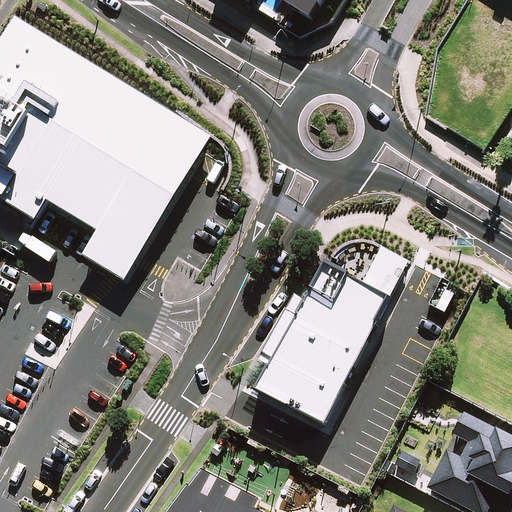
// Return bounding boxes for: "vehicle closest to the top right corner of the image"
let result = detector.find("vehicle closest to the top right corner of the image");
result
[366,104,388,125]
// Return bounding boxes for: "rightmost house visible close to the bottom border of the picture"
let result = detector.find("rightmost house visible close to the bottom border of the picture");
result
[428,412,512,512]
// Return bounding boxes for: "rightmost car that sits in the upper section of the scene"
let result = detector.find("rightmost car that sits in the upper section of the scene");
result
[426,194,449,214]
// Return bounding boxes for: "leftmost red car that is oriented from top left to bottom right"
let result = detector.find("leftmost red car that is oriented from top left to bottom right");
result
[6,393,27,410]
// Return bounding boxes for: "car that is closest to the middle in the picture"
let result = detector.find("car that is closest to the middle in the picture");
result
[272,252,288,274]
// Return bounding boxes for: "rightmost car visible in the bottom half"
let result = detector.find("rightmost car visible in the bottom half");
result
[418,317,442,336]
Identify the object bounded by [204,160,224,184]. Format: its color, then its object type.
white vehicle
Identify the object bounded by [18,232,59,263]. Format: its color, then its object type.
white truck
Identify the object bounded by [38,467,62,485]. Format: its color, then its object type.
black car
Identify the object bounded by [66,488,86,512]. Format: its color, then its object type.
white car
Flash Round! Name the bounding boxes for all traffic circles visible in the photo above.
[298,94,364,160]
